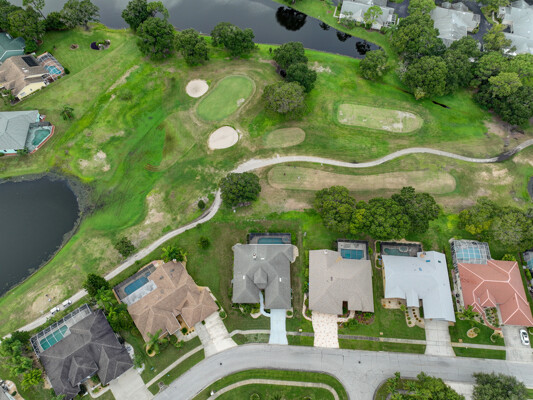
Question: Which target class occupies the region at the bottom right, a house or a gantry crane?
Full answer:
What appears at the bottom right is a house.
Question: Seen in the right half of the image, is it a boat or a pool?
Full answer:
It is a pool that can be seen in the right half of the image.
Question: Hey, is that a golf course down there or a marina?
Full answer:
This image shows a golf course.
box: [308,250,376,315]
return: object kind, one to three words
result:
house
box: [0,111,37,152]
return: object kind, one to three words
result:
house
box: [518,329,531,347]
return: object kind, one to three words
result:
vehicle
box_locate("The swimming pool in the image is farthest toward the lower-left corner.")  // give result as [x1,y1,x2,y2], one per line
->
[37,308,91,356]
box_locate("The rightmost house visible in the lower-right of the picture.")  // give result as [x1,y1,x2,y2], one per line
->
[454,260,533,327]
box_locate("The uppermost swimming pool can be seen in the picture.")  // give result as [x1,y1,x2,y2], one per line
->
[42,57,62,82]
